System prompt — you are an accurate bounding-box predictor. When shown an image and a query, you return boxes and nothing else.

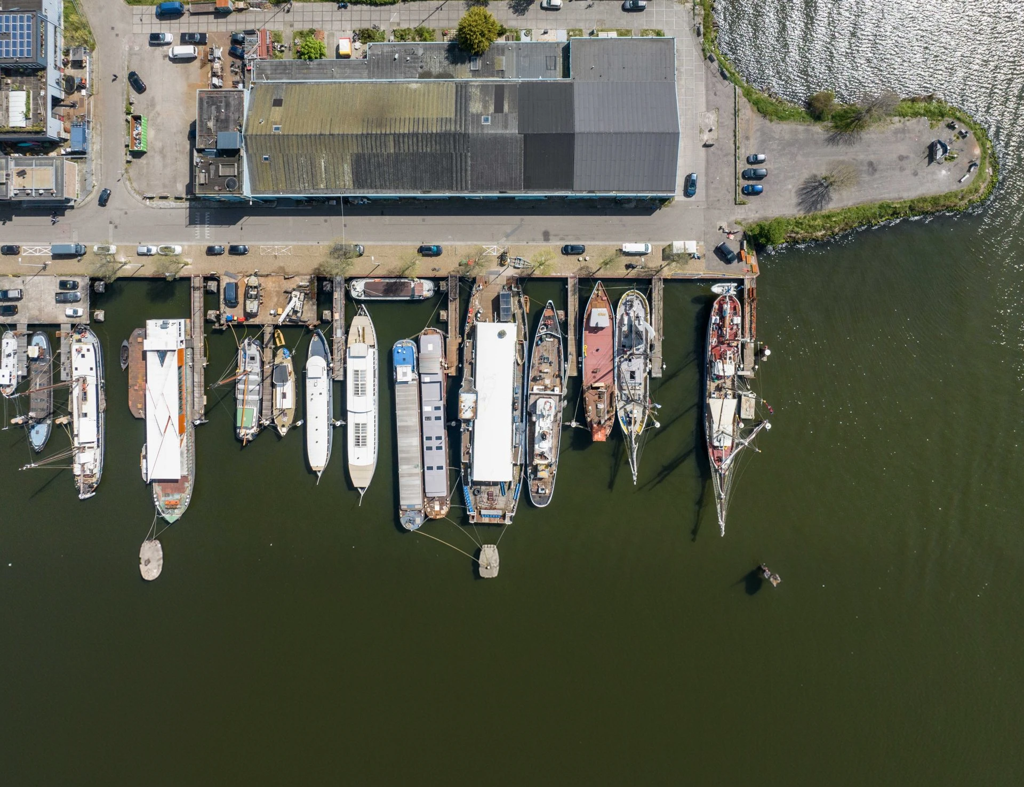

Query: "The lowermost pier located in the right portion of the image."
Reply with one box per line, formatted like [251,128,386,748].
[739,392,755,419]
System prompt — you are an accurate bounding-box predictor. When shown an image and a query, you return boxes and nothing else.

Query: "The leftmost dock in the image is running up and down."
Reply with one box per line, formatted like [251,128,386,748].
[17,323,30,374]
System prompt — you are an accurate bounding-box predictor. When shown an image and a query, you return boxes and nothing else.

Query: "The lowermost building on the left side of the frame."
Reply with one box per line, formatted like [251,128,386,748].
[0,156,85,204]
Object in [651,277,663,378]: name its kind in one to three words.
pier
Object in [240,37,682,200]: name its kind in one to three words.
warehouse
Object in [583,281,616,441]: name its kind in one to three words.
vessel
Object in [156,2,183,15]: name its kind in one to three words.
vehicle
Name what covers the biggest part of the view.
water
